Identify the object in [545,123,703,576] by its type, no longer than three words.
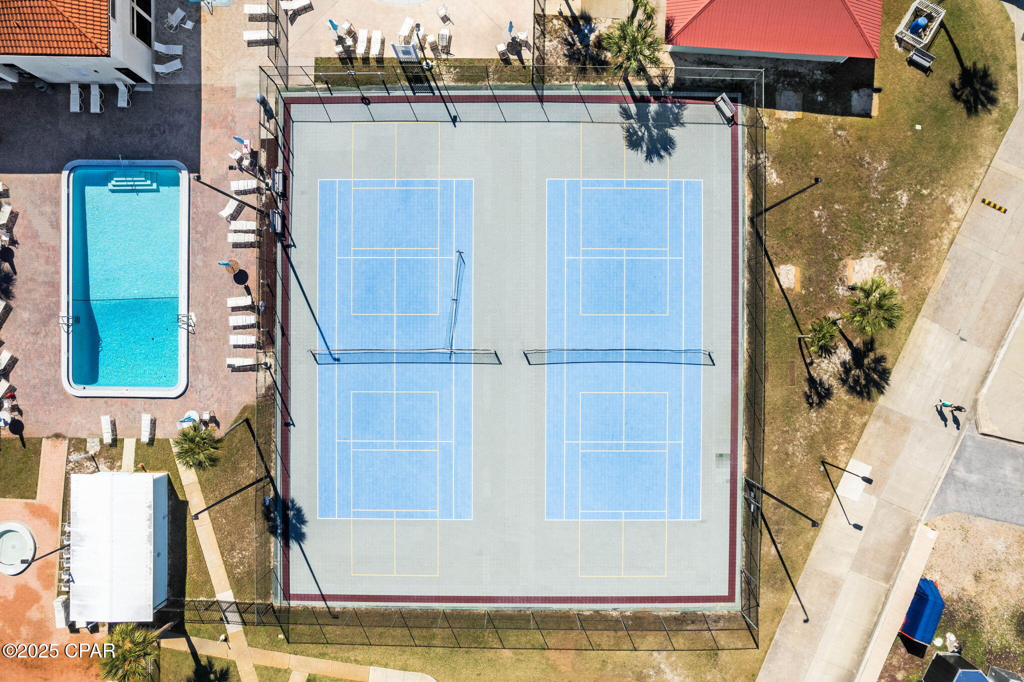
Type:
tennis court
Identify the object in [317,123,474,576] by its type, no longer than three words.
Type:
tennis court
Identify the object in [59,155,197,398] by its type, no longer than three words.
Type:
swimming pool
